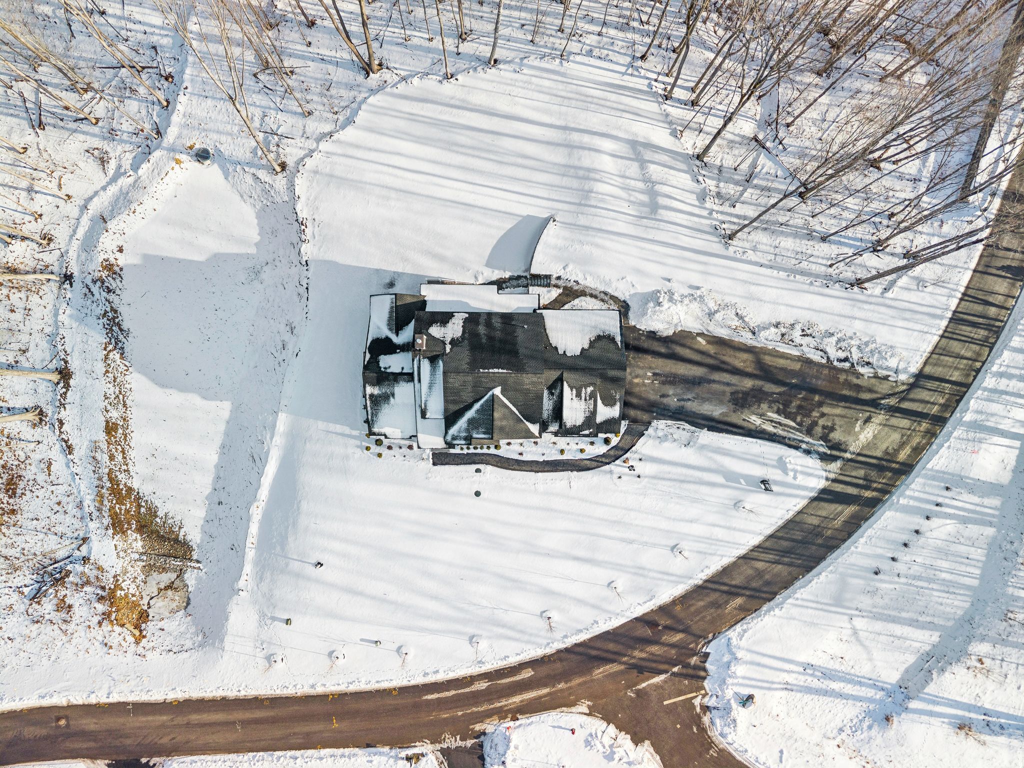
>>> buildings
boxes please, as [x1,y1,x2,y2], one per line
[362,277,627,452]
